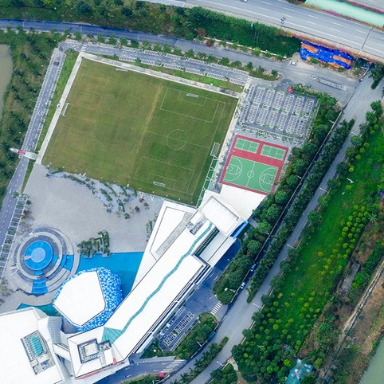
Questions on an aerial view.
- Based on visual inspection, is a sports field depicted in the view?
Yes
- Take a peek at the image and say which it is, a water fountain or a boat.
water fountain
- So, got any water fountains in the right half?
No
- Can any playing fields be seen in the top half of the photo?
Yes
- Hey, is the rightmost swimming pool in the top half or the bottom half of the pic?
bottom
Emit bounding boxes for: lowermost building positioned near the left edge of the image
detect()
[0,307,136,384]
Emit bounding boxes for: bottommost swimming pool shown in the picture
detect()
[17,303,65,317]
